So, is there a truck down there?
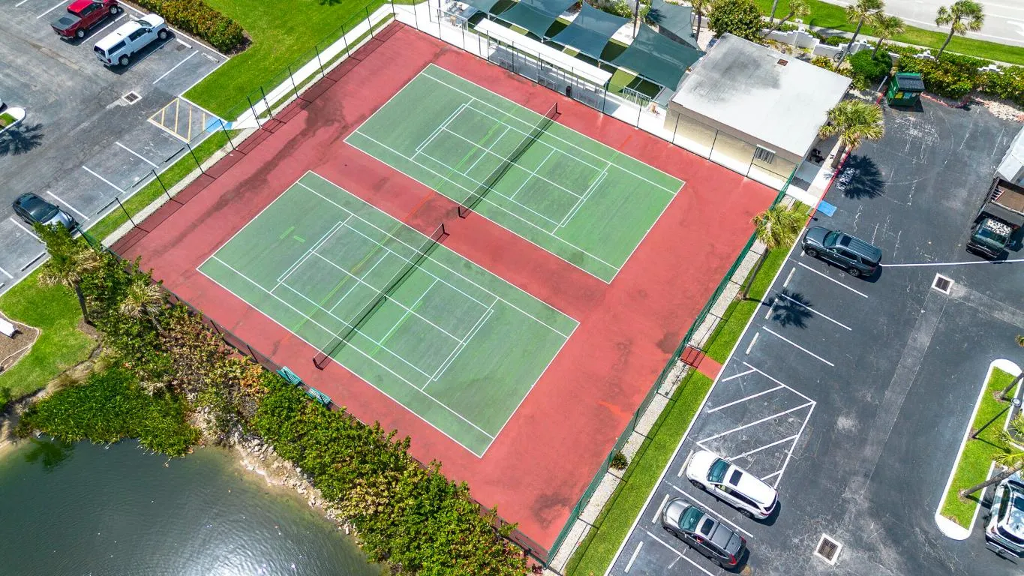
Yes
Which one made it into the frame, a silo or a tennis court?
tennis court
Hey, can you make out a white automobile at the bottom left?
No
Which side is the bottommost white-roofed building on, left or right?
right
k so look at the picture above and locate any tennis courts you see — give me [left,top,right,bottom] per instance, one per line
[343,64,685,284]
[197,170,581,458]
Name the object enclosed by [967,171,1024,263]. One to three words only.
truck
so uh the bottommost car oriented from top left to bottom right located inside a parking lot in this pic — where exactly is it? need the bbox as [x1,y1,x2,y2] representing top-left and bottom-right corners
[660,499,748,571]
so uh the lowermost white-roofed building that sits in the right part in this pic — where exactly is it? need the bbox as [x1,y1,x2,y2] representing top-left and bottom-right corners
[666,31,855,181]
